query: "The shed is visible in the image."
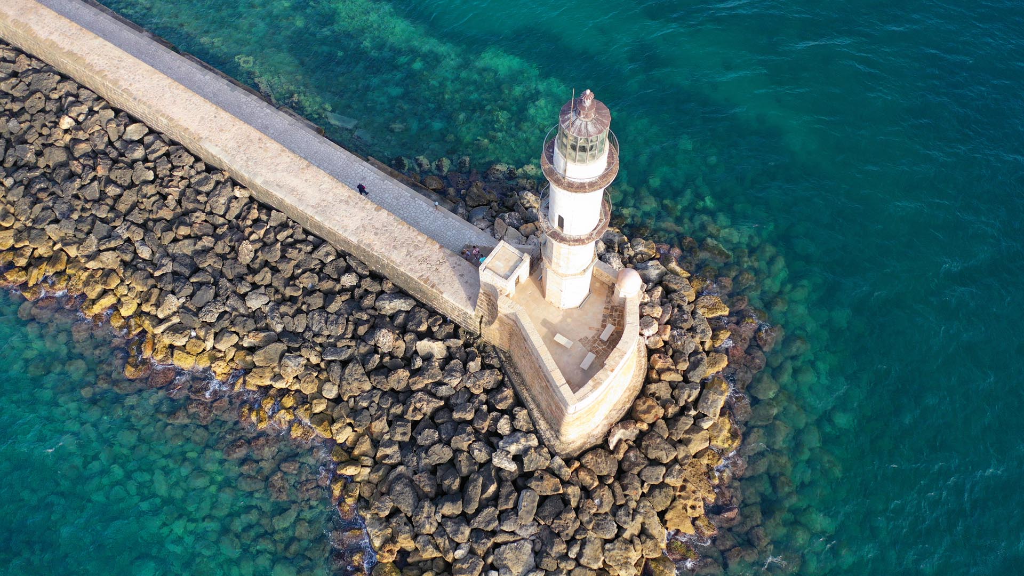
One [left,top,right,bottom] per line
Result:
[480,239,529,297]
